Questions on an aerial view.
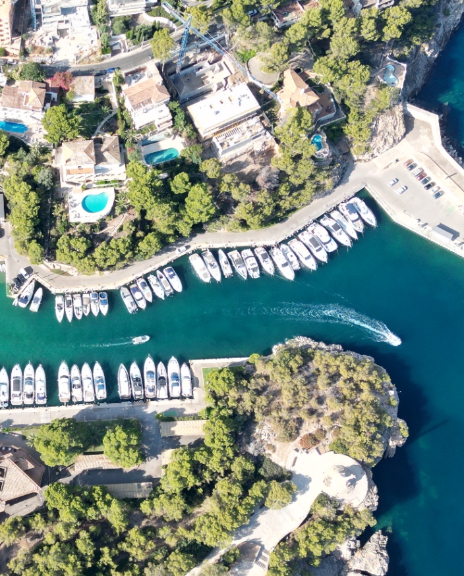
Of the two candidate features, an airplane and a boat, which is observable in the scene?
boat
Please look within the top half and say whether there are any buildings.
Yes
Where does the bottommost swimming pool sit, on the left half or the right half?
left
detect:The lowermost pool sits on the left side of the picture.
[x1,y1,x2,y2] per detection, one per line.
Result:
[81,191,109,214]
